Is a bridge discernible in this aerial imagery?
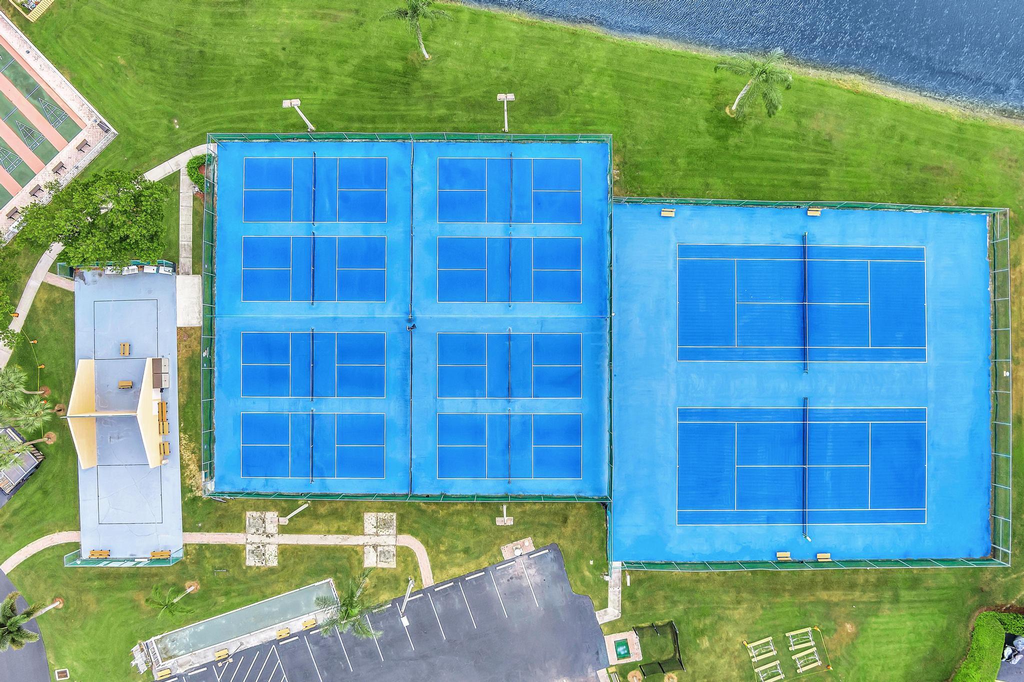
No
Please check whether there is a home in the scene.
No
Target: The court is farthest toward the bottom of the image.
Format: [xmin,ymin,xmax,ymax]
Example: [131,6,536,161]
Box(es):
[151,579,340,666]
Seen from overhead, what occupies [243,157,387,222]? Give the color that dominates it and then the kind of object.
blue sports court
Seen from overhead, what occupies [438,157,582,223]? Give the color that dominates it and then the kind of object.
blue sports court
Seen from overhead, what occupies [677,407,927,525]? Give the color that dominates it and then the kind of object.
blue tennis court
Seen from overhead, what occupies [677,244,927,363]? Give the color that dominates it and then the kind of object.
blue tennis court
